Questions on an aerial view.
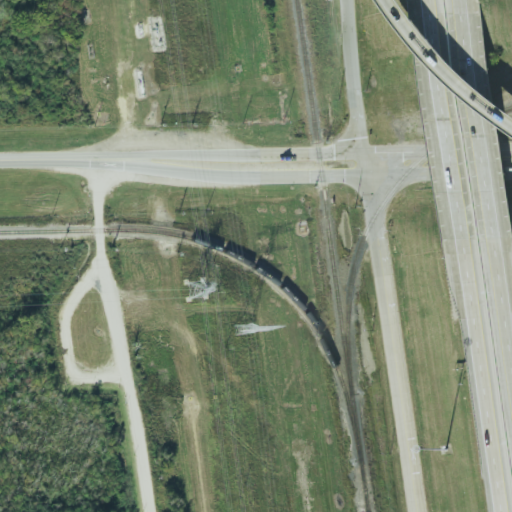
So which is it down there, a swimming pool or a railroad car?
railroad car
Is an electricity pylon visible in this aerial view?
Yes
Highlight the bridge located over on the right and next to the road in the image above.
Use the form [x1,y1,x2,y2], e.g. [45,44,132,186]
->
[406,2,512,318]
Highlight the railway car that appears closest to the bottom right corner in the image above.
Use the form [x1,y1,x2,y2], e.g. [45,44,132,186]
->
[320,338,339,368]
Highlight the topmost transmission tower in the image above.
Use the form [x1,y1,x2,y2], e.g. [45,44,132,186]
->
[184,278,218,302]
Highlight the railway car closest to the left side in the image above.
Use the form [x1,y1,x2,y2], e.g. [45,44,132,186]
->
[196,236,227,253]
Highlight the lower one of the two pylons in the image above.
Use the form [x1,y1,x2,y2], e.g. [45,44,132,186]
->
[232,320,274,338]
